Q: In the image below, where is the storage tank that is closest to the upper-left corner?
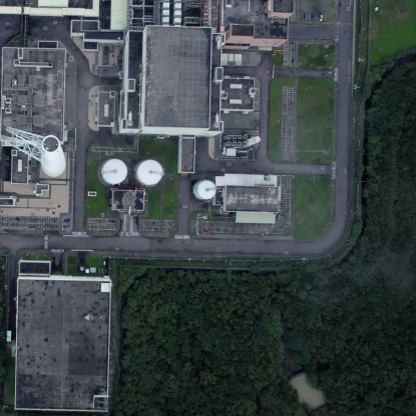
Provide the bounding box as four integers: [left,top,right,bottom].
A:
[96,157,128,189]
